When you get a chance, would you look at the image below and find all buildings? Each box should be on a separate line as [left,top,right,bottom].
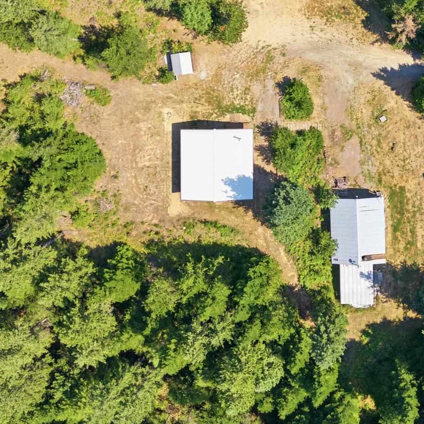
[181,129,255,201]
[330,196,386,268]
[171,52,196,75]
